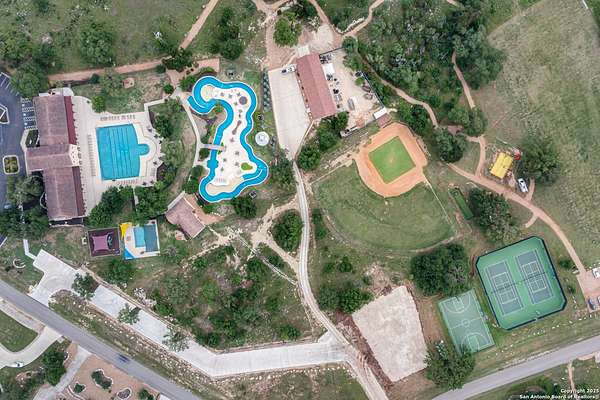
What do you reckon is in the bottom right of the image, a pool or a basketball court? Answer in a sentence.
Visible in the bottom right of the image is a basketball court.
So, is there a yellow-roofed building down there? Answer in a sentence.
Yes, the image includes a yellow-roofed building.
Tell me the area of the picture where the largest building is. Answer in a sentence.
The largest building is located in the left region of the scene.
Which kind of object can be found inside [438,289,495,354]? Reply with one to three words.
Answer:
basketball court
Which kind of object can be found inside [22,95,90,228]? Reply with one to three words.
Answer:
building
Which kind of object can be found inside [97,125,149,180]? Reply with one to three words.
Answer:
swimming pool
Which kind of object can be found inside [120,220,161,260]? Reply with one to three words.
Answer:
swimming pool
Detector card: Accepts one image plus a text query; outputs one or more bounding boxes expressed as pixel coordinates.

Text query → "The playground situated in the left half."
[87,227,121,257]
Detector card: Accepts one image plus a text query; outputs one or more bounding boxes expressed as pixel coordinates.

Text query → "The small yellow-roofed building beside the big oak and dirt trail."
[488,152,513,179]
